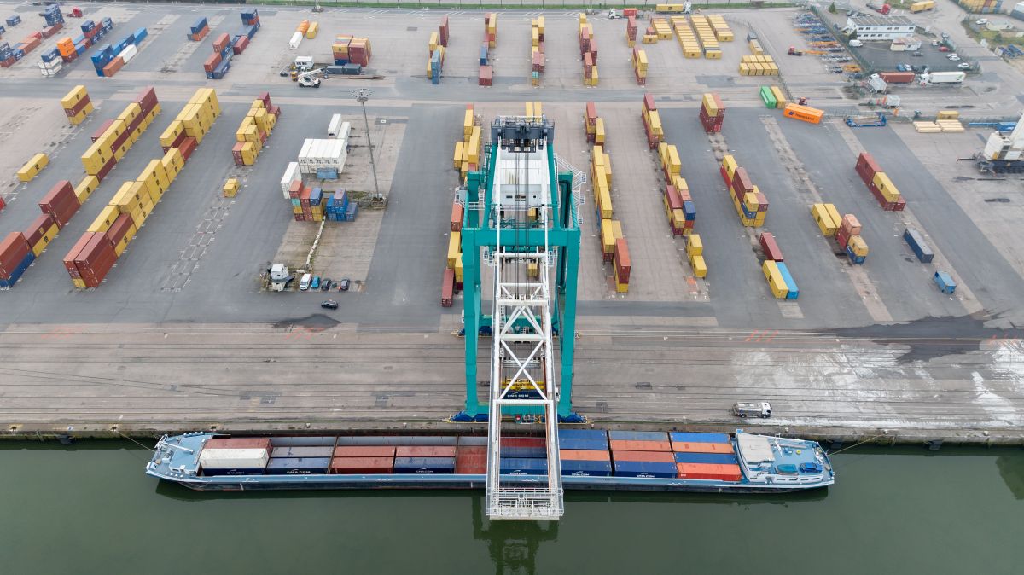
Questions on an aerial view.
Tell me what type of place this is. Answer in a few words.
port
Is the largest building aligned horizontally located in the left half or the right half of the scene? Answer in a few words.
right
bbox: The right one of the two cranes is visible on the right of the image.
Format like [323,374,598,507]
[960,130,1024,178]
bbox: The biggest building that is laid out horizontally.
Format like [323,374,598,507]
[845,14,921,40]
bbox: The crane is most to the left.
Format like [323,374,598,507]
[439,121,601,520]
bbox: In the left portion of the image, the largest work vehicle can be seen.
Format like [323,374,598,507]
[297,61,327,87]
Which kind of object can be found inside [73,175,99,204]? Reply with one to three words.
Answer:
shipping container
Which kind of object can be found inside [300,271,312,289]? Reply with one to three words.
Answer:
vehicle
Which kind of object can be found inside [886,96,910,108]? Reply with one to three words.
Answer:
vehicle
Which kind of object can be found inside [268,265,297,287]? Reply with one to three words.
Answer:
shed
